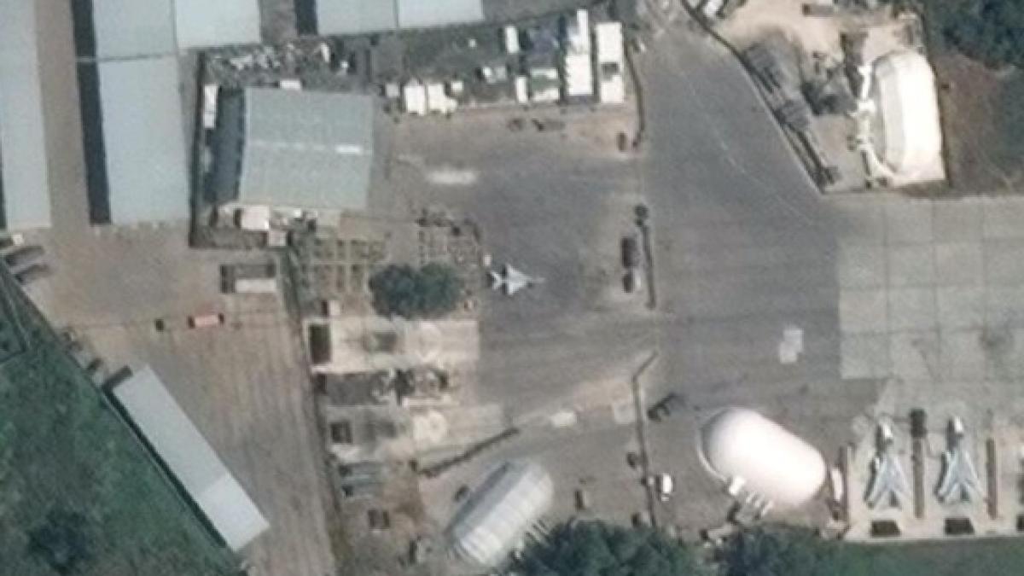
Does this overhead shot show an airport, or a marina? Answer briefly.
airport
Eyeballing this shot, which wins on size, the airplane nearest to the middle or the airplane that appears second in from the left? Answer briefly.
the airplane that appears second in from the left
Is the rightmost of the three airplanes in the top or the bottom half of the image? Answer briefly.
bottom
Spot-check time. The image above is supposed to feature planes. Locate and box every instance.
[866,425,911,512]
[938,422,982,507]
[491,264,538,295]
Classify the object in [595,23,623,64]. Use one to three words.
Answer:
building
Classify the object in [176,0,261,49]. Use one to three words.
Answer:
shed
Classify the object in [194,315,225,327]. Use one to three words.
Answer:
vehicle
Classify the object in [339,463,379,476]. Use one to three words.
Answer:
vehicle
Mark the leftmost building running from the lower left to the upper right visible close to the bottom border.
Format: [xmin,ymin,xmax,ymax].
[451,464,554,564]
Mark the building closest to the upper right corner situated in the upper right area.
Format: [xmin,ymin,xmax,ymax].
[874,51,946,183]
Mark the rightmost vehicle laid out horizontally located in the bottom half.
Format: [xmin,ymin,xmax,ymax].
[702,524,732,539]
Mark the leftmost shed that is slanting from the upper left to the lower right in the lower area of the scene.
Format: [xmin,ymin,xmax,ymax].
[113,366,269,551]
